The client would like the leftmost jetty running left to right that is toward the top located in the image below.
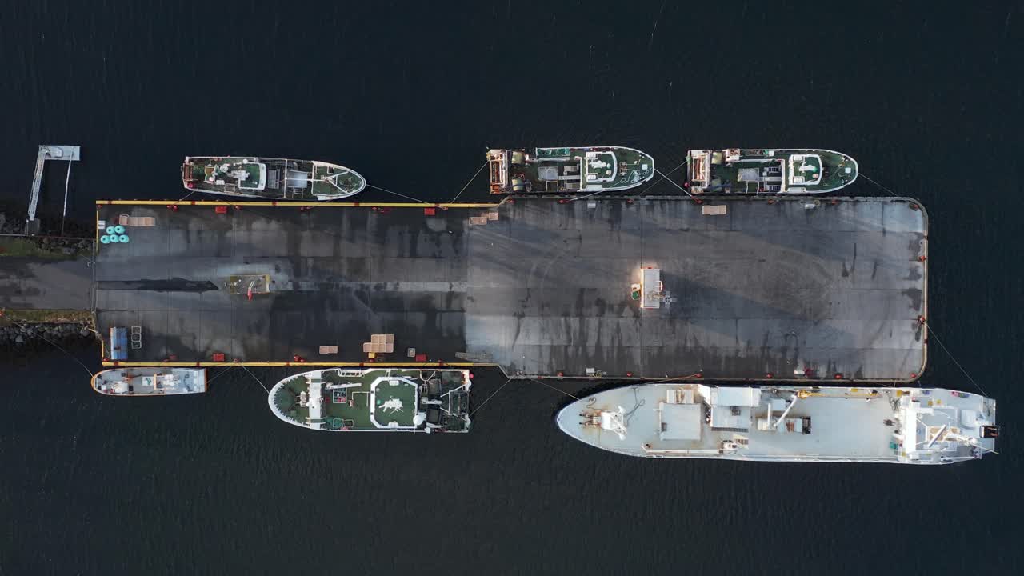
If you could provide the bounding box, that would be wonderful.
[39,145,81,160]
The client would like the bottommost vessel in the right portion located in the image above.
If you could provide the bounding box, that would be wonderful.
[557,382,999,465]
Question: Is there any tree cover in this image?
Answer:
No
